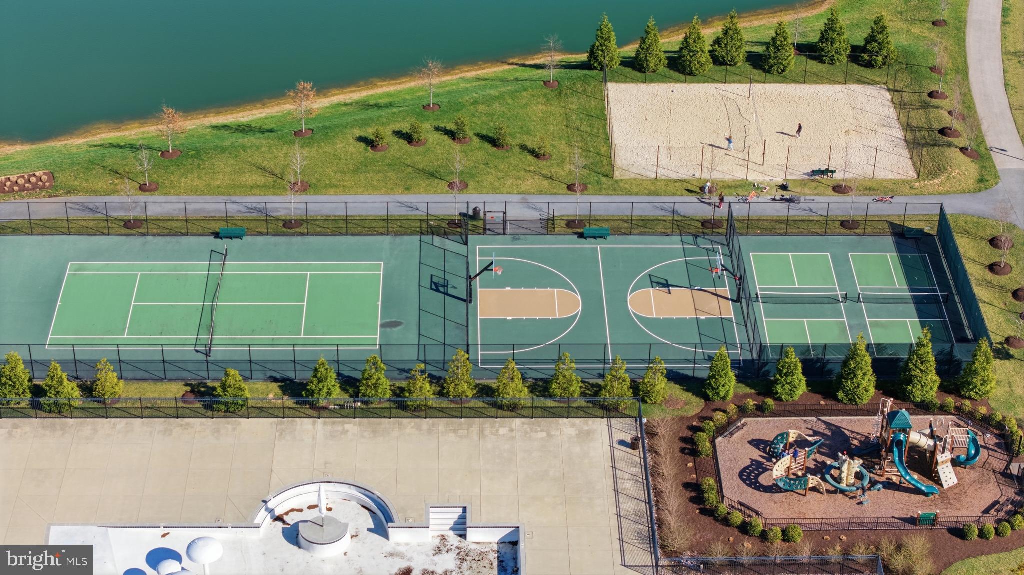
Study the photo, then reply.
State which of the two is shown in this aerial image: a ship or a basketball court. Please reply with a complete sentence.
There is a basketball court in the scene.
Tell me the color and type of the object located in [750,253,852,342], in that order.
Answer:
green sports court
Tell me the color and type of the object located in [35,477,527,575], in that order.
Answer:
white swimming pool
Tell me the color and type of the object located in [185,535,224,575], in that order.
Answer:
white fountain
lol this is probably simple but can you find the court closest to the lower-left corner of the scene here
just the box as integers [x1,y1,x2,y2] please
[46,262,383,348]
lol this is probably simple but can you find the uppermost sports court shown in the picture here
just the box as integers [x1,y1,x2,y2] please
[608,83,918,178]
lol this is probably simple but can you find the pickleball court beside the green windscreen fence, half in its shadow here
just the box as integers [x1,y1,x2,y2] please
[848,253,956,342]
